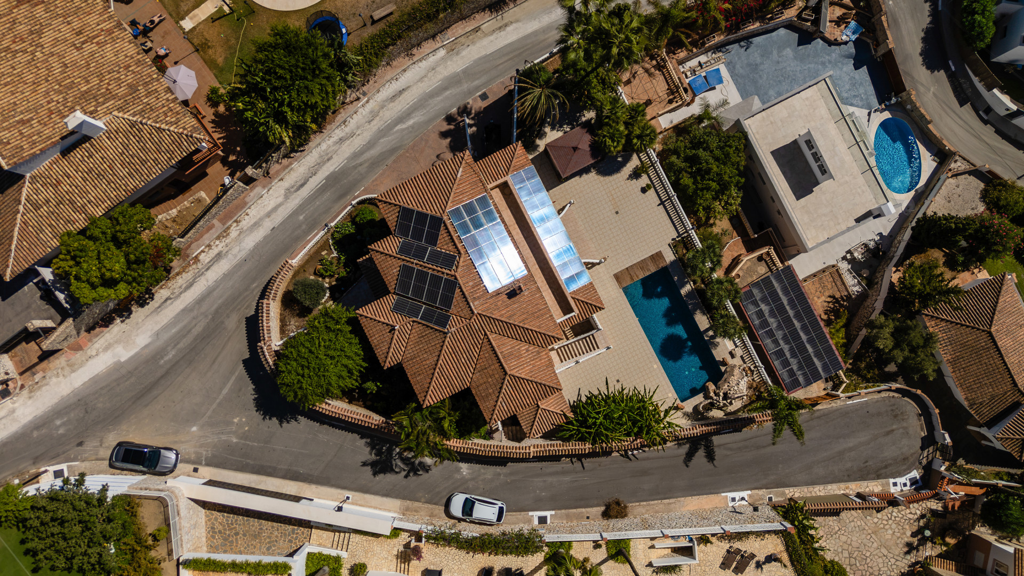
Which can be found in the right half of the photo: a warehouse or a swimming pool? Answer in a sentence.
The one visible in the right half of the photo is a swimming pool.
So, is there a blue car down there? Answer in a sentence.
No, there isn't any blue car down there.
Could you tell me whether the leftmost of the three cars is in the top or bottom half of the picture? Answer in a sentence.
The leftmost of the three cars is in the bottom half of the image.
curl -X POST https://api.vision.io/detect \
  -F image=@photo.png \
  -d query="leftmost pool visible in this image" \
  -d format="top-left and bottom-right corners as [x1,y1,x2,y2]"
[624,268,719,400]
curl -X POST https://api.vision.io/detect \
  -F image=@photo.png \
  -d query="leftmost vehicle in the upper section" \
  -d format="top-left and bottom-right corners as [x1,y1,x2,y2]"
[476,101,507,158]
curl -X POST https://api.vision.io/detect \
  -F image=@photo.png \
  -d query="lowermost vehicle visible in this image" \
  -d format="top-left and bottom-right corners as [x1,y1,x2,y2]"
[445,492,508,528]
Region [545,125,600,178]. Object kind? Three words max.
gazebo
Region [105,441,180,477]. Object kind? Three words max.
car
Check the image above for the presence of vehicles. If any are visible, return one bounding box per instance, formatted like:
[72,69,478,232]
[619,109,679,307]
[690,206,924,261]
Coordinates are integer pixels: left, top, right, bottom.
[445,492,508,528]
[476,101,507,158]
[105,441,180,477]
